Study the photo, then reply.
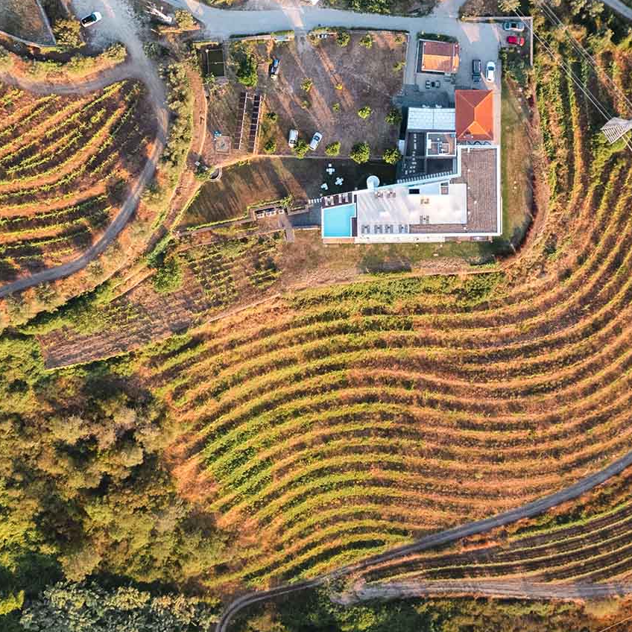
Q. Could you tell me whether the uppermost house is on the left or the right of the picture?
right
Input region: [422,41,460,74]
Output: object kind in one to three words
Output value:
house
